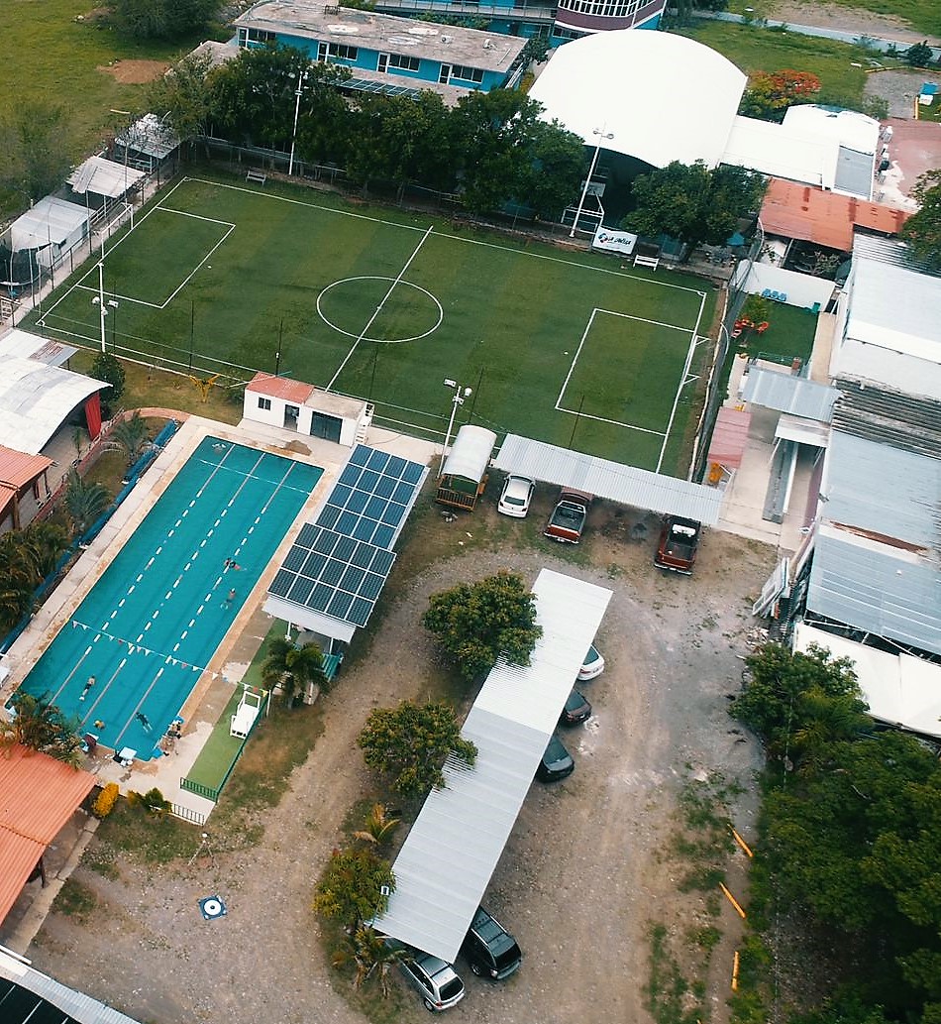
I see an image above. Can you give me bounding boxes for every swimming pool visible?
[0,425,338,777]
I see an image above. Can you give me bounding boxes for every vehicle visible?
[457,902,516,984]
[498,471,540,516]
[575,639,613,683]
[547,487,603,546]
[555,680,597,730]
[655,515,709,577]
[381,933,469,1014]
[532,734,575,785]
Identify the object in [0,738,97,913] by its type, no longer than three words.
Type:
building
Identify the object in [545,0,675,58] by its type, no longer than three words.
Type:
building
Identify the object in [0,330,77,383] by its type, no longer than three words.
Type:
shed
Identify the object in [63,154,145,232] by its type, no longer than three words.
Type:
shed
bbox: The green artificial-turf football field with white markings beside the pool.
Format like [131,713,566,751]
[15,162,724,475]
